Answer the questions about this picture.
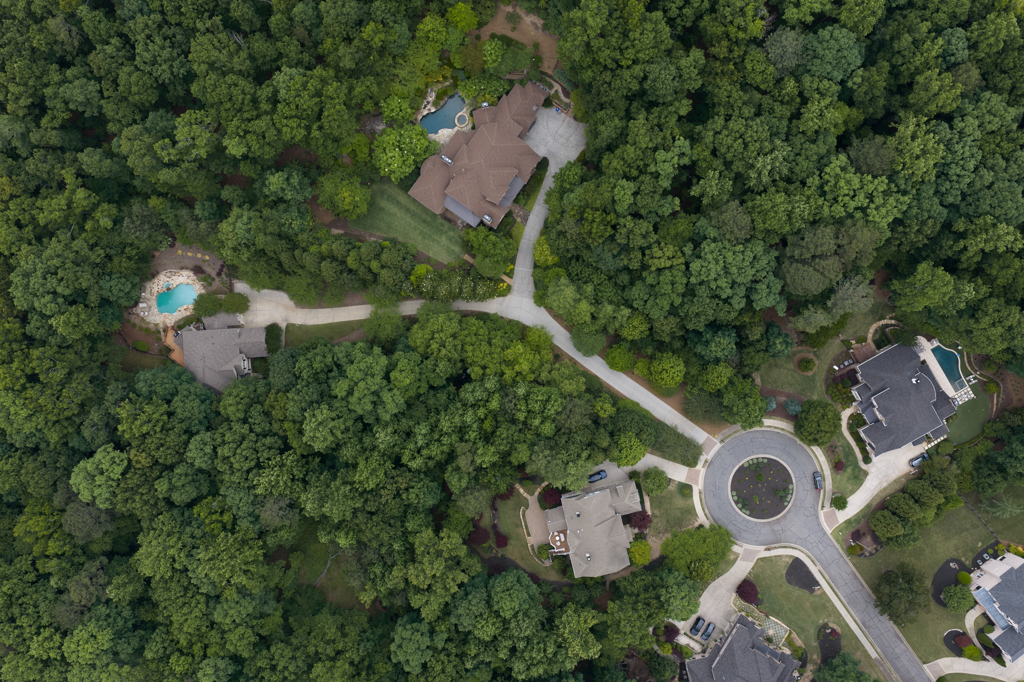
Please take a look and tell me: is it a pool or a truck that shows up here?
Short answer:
pool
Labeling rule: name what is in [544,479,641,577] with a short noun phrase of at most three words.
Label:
house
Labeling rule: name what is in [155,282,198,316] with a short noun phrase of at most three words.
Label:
swimming pool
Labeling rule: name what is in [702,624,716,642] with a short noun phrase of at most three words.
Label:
car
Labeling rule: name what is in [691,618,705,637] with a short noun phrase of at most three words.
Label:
car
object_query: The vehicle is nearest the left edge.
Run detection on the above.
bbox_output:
[589,471,607,484]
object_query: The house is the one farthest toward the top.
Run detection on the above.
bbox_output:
[408,80,550,228]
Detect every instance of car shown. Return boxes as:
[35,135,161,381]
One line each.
[702,624,716,642]
[691,618,705,637]
[814,473,825,491]
[589,471,607,484]
[911,453,928,469]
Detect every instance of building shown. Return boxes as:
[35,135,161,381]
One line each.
[160,307,271,396]
[685,607,802,682]
[408,80,550,228]
[848,341,960,458]
[965,539,1024,664]
[544,479,641,577]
